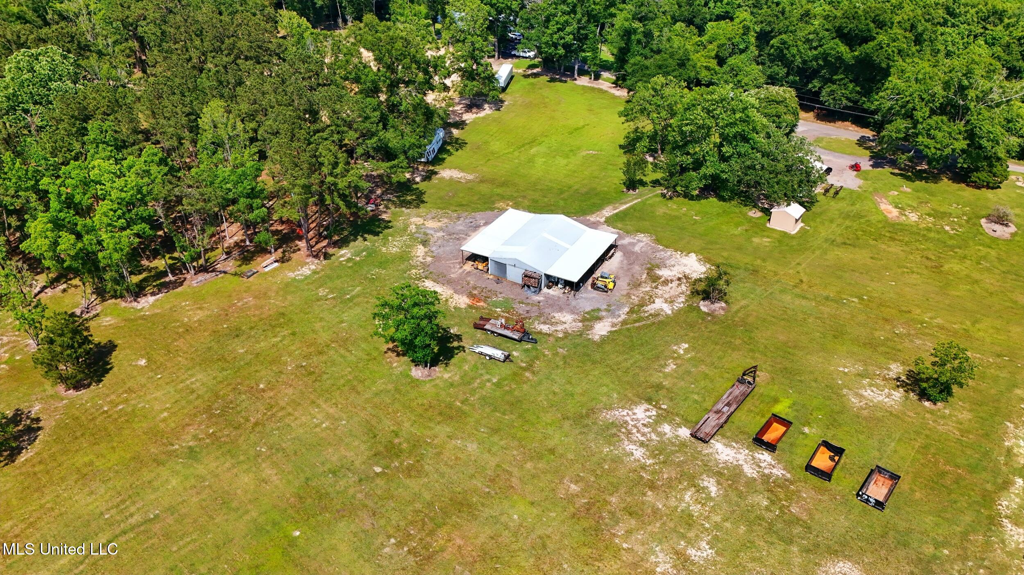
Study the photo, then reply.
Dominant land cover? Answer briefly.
grass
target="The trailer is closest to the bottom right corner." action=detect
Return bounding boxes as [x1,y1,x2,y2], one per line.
[689,367,757,444]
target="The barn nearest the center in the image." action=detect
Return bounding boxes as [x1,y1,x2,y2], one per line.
[461,208,617,297]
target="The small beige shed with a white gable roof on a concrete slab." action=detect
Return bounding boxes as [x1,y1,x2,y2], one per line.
[768,200,806,233]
